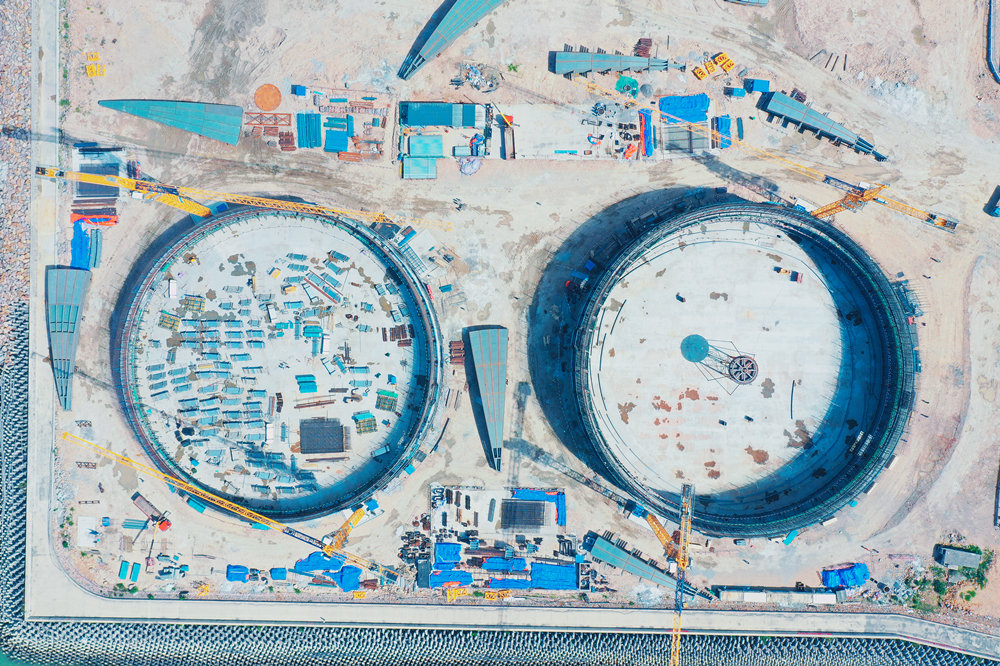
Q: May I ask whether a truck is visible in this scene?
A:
Yes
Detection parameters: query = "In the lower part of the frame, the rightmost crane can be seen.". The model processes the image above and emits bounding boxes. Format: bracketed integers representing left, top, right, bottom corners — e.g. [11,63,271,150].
[635,483,698,666]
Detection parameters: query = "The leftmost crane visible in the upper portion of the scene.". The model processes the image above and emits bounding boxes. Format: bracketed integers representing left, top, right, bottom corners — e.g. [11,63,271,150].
[36,162,454,229]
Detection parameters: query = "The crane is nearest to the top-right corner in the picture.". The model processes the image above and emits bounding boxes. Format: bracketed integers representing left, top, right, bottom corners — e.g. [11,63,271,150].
[573,70,961,228]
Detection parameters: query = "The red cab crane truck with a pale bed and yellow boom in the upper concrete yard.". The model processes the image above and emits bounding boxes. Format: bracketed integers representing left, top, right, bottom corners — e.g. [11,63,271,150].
[488,95,516,155]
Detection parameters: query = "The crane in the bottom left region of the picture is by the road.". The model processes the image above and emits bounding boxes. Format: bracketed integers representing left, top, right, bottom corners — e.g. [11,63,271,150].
[58,432,399,586]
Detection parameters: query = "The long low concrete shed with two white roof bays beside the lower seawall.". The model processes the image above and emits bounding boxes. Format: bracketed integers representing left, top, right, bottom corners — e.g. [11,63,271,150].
[714,587,853,608]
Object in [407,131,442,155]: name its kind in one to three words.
shed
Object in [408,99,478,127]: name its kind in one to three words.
shed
